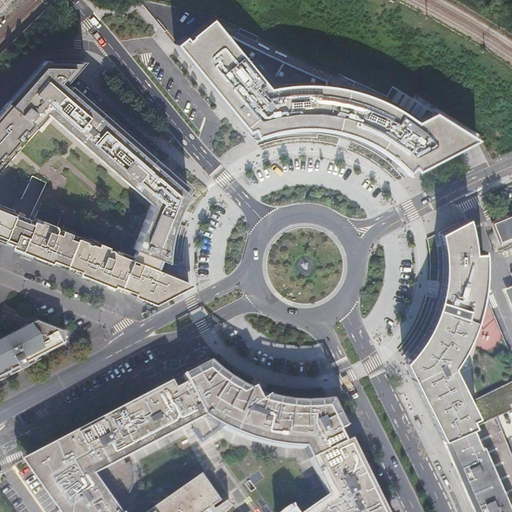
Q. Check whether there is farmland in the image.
No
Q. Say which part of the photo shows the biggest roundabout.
center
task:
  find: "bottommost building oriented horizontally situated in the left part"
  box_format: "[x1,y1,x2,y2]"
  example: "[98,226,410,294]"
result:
[152,473,233,512]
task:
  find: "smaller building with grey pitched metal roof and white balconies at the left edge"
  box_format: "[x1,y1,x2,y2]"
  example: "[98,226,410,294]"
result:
[0,320,68,384]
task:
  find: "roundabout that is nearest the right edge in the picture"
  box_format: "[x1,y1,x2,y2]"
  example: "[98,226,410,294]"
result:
[245,205,366,326]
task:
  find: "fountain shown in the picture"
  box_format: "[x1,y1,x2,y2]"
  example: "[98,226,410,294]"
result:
[296,256,314,275]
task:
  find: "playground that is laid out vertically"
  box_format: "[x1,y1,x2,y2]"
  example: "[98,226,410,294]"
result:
[476,298,502,349]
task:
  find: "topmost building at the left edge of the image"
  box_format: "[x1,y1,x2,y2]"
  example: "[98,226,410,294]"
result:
[0,62,184,254]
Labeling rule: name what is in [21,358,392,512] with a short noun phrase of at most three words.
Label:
building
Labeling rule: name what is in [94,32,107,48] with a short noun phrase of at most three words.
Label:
vehicle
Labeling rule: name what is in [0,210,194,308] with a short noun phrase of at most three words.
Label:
building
